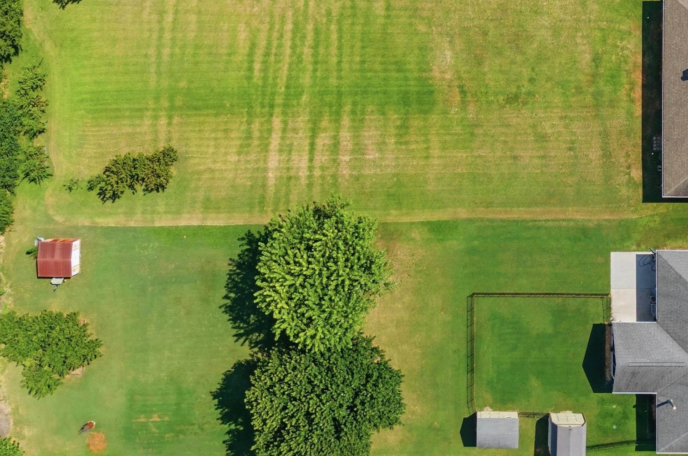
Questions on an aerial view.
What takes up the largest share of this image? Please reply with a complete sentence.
Most of the picture is covered by grass.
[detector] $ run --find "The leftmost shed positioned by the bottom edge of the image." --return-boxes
[477,412,519,448]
